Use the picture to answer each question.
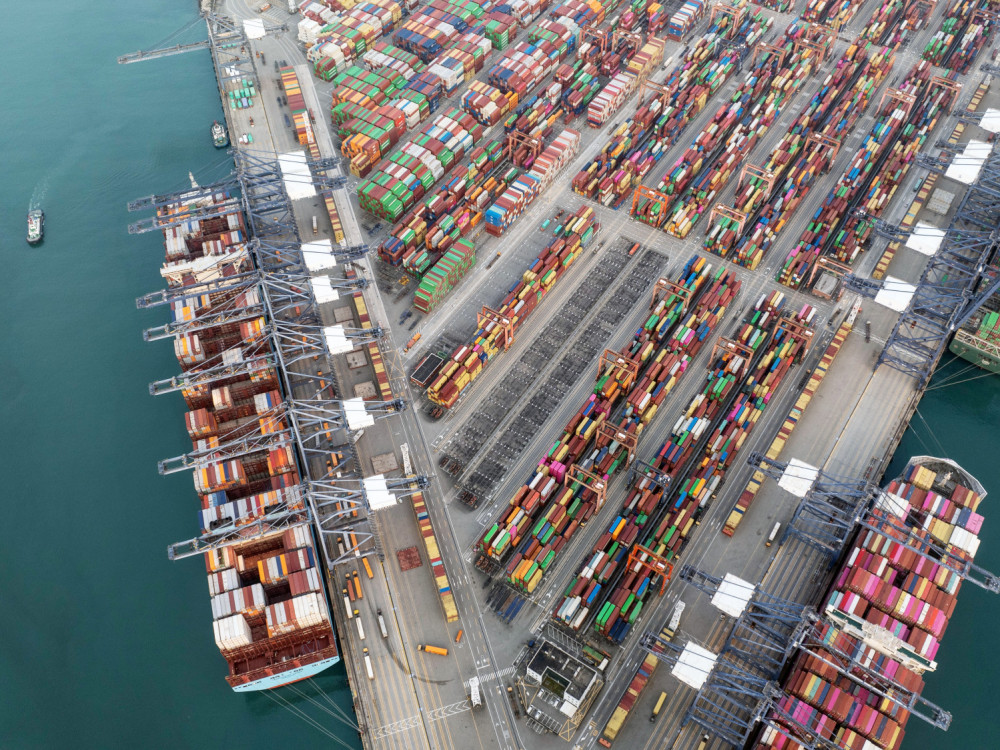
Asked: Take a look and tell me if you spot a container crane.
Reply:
Yes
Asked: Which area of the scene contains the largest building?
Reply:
bottom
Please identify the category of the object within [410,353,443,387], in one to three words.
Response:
shed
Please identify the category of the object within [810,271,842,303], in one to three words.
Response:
shed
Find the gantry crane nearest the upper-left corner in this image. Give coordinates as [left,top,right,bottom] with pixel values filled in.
[110,5,284,104]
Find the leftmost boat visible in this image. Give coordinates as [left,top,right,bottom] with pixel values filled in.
[28,212,47,246]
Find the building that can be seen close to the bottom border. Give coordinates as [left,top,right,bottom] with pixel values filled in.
[526,640,599,719]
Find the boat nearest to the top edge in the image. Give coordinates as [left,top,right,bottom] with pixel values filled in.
[212,122,228,151]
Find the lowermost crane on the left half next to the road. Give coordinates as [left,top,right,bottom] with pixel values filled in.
[167,473,424,579]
